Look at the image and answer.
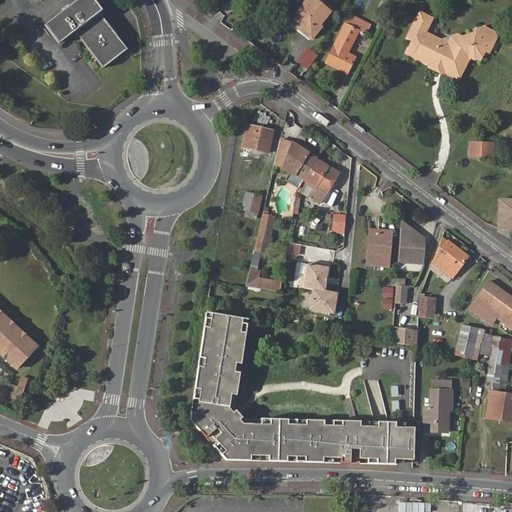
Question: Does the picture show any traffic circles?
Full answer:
Yes, you can see a traffic circle in this photo.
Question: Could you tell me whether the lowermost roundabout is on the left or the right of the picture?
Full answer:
The lowermost roundabout is on the left side of the image.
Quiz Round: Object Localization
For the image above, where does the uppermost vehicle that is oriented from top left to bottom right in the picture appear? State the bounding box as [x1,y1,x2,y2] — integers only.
[312,112,330,126]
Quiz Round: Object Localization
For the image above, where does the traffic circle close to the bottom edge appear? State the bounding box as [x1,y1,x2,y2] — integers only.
[52,416,174,512]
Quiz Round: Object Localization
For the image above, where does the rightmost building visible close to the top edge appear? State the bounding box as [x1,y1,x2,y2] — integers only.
[404,11,498,78]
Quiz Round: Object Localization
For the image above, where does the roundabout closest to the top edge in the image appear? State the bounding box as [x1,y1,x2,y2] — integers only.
[102,94,222,214]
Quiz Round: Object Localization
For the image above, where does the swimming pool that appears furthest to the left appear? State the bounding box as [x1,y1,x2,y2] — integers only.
[270,182,298,217]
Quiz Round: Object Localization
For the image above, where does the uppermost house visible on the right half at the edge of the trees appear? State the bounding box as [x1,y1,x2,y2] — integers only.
[297,0,332,40]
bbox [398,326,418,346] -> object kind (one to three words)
building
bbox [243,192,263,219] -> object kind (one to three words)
shed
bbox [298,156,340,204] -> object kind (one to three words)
house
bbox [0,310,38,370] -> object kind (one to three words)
barn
